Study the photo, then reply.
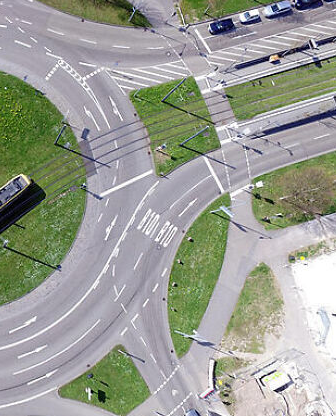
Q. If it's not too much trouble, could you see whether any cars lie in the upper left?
No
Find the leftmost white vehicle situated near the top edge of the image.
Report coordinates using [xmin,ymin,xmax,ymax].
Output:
[236,8,263,26]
